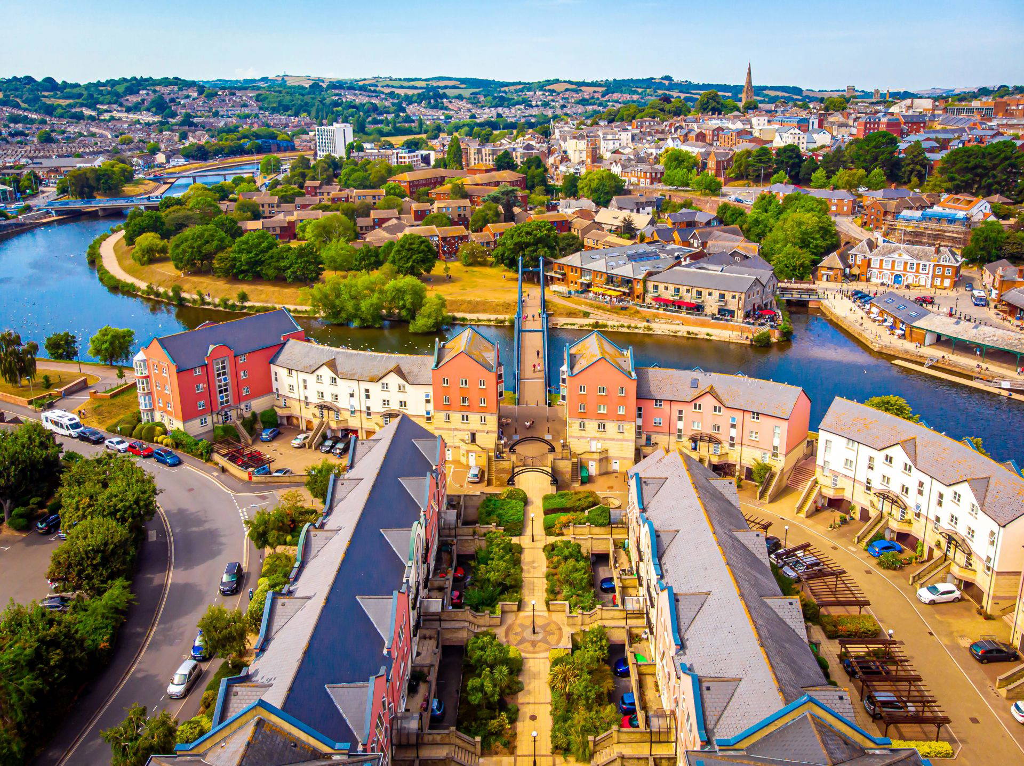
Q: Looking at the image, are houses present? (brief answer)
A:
Yes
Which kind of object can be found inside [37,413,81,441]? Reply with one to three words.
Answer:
camper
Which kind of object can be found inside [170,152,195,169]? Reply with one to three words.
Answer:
house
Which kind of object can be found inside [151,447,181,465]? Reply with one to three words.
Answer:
car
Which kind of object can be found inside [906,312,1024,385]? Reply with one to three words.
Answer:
shed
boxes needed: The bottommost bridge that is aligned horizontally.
[784,281,835,299]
